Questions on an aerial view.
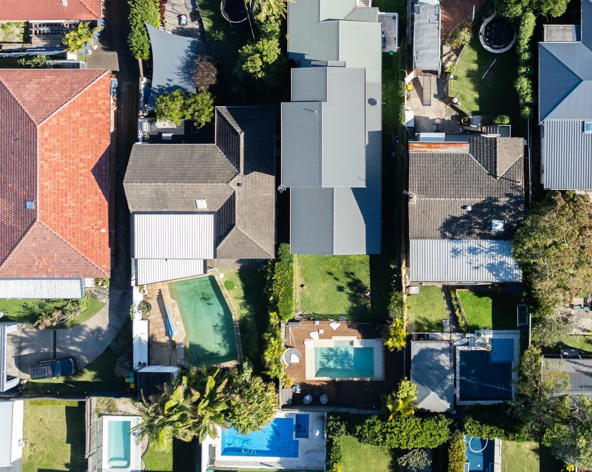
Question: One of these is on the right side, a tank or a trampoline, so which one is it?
trampoline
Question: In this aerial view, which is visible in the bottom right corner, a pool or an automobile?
pool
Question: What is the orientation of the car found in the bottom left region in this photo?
from left to right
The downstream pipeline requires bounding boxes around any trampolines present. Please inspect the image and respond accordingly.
[479,17,516,54]
[216,0,256,26]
